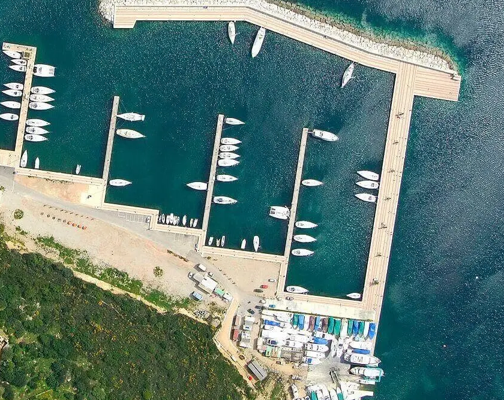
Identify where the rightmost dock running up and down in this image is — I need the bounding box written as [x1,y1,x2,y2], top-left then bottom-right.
[361,60,415,356]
